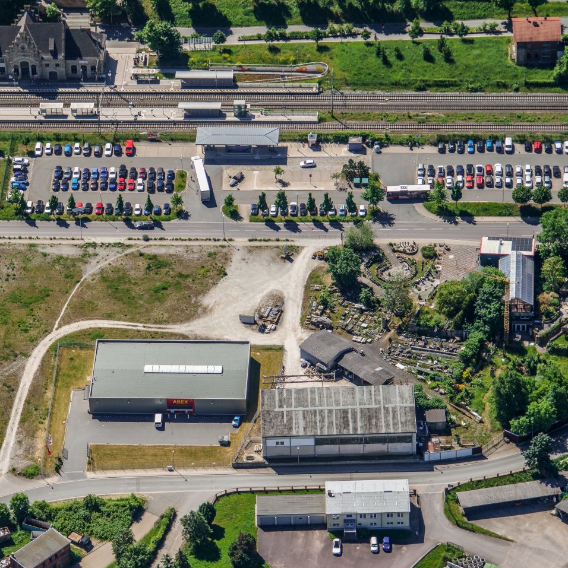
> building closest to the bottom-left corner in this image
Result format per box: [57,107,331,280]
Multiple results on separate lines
[11,529,70,568]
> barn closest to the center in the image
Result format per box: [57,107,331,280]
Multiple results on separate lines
[301,330,354,378]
